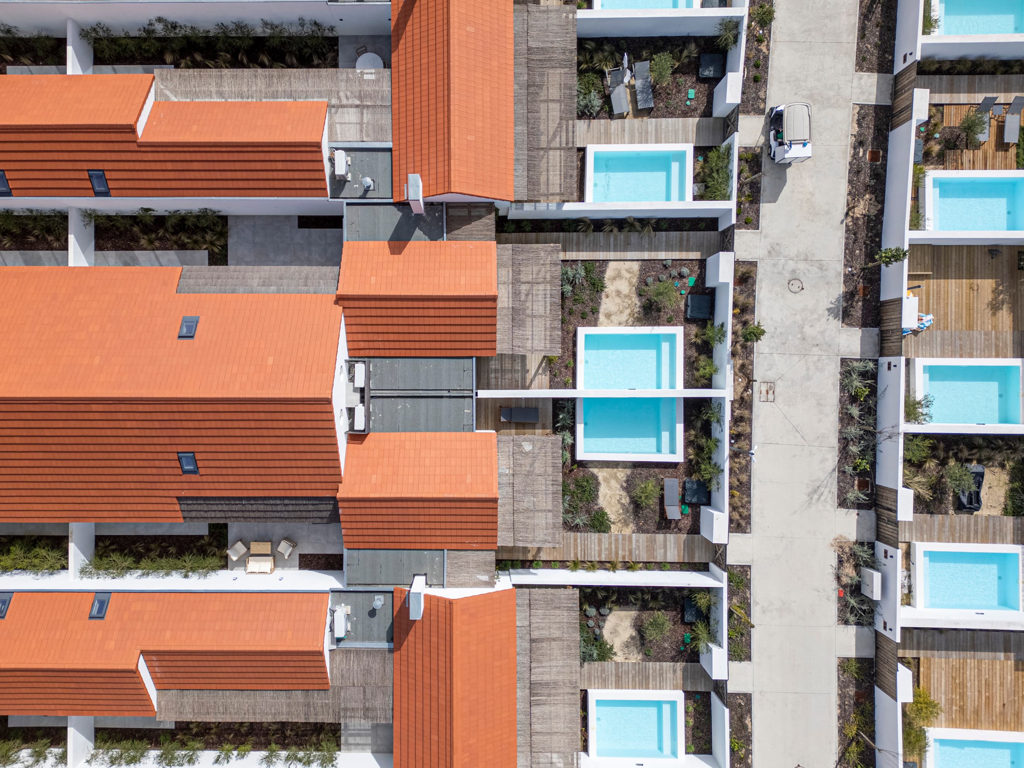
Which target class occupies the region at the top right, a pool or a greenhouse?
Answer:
pool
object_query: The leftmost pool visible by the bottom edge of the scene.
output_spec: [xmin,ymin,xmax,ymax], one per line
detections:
[587,687,684,759]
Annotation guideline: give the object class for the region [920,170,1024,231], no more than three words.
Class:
swimming pool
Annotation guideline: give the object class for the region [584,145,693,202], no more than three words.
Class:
swimming pool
